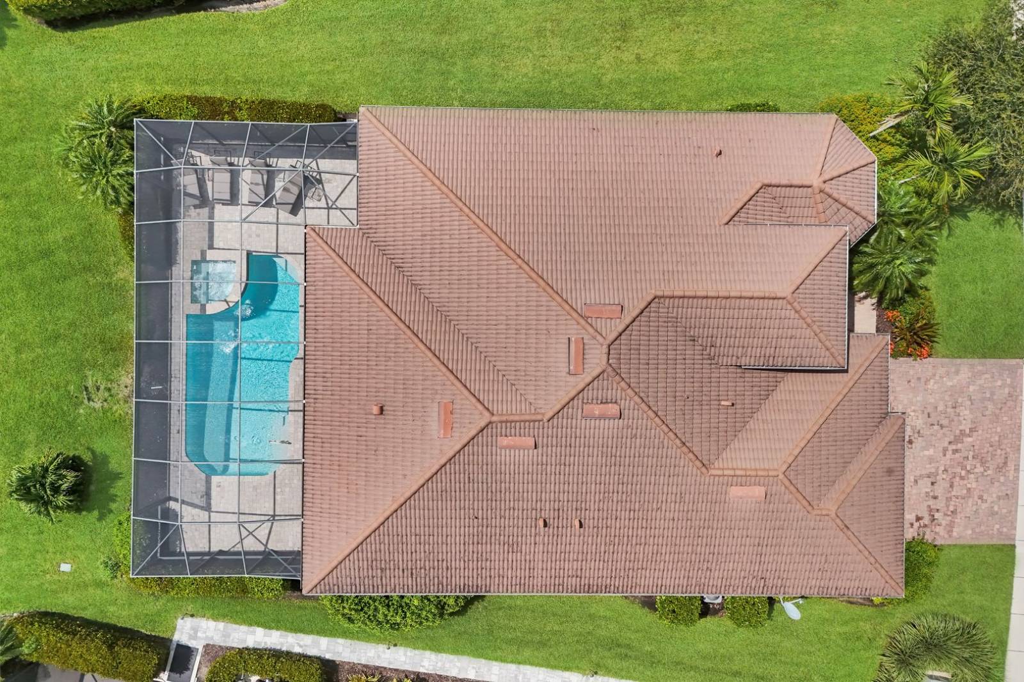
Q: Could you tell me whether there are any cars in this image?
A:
No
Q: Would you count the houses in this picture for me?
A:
one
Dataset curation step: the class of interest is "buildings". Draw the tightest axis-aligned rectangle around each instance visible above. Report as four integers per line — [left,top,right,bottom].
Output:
[301,106,905,599]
